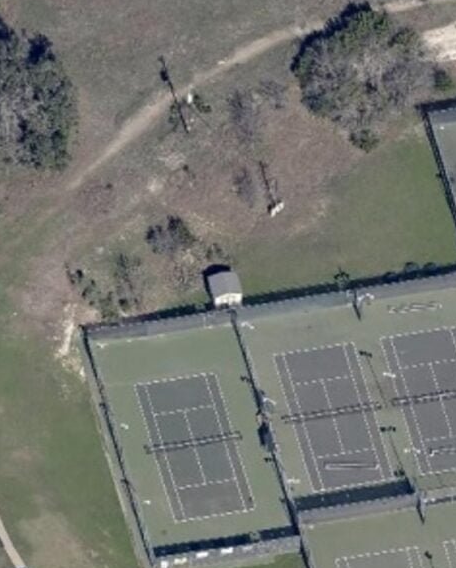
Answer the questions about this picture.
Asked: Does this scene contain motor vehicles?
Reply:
No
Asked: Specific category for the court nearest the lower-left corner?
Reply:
tennis court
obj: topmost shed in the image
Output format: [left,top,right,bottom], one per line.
[209,270,243,310]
